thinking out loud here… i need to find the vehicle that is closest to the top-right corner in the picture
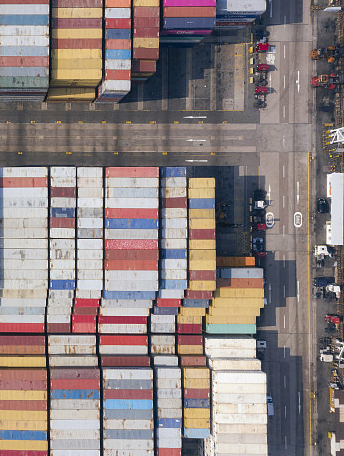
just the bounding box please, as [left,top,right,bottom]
[314,44,344,60]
